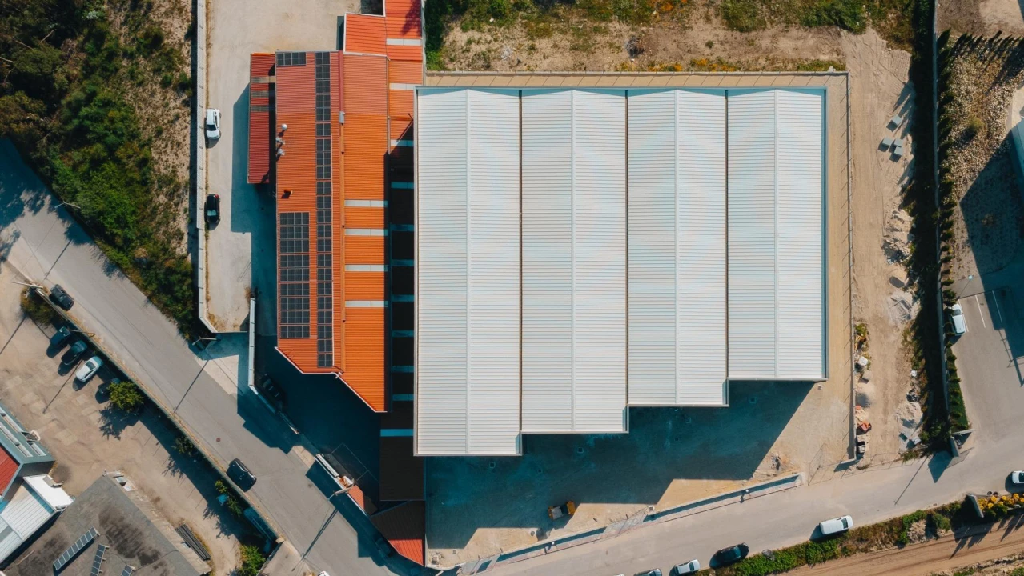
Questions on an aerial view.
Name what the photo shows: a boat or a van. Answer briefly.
van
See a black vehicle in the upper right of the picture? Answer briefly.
No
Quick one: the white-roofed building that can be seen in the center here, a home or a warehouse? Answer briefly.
warehouse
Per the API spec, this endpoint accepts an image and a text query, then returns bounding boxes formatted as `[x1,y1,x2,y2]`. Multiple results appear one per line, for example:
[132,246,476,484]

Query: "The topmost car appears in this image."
[205,109,221,139]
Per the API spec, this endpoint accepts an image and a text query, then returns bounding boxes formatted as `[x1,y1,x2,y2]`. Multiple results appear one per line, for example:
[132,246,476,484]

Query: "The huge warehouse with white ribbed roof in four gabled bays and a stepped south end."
[414,86,827,457]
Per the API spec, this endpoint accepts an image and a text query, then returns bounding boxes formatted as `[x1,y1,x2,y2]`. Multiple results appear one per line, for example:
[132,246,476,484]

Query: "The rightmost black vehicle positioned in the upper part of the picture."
[204,195,220,225]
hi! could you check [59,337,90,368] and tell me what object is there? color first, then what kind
black car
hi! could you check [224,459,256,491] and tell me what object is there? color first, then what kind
black car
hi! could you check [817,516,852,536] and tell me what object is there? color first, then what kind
white vehicle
